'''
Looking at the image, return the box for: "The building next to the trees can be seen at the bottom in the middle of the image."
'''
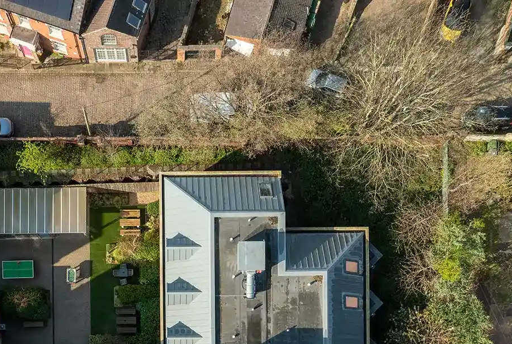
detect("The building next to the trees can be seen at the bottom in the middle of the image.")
[160,171,381,344]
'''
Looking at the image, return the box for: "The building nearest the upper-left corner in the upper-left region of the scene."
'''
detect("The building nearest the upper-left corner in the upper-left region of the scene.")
[0,0,92,63]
